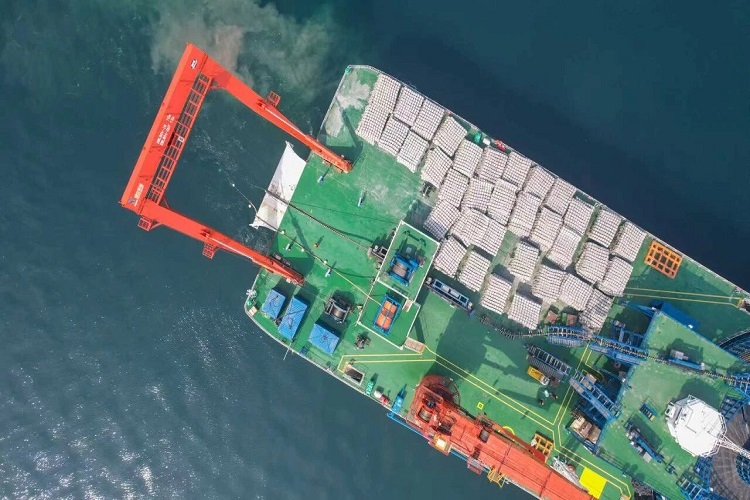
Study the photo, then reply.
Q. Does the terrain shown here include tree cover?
No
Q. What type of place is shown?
port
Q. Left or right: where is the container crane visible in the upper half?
left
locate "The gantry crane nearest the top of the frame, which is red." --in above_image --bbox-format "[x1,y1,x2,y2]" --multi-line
[119,43,357,289]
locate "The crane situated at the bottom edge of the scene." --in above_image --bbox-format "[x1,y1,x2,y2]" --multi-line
[404,373,604,500]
